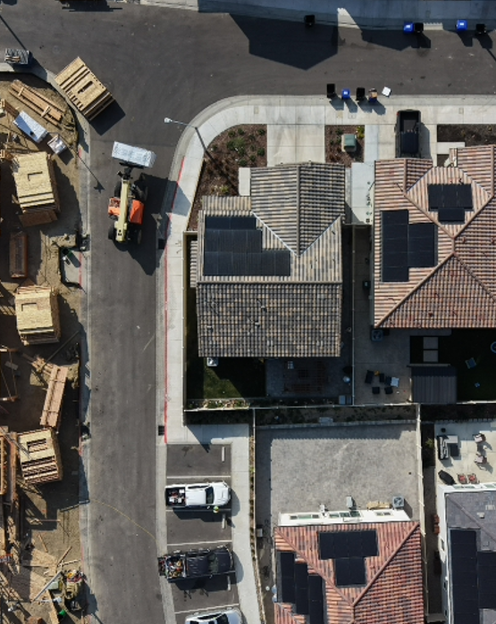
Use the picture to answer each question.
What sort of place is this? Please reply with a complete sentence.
It's a residential area.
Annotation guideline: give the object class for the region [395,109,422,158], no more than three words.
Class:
truck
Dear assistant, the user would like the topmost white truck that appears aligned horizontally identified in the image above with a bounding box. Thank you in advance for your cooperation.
[164,481,233,510]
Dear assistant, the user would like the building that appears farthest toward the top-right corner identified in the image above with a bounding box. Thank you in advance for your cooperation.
[371,144,496,329]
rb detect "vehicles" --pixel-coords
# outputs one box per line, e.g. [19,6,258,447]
[108,160,144,241]
[187,606,244,624]
[395,109,422,158]
[162,547,238,581]
[164,481,233,510]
